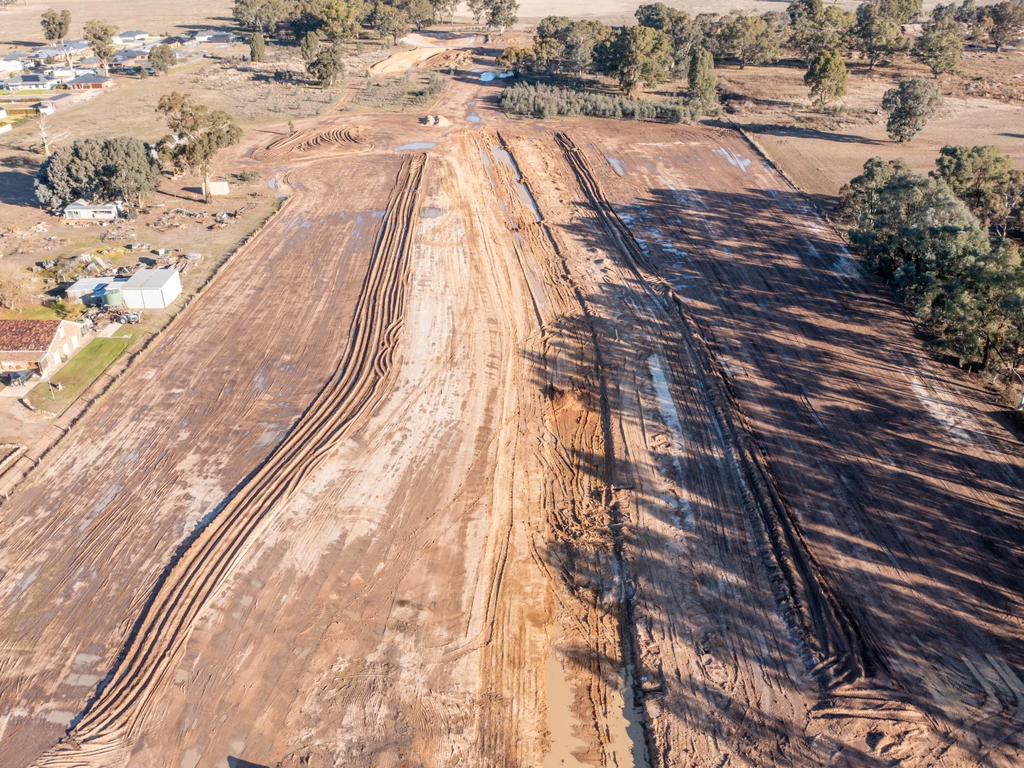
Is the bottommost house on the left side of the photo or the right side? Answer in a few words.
left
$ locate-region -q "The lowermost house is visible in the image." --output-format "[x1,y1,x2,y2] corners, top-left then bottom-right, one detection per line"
[0,317,91,379]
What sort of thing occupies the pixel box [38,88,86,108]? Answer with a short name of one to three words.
building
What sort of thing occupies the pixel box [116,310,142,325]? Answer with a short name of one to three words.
work vehicle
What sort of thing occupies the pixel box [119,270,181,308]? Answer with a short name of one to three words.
shed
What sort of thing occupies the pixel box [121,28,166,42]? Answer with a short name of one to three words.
house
